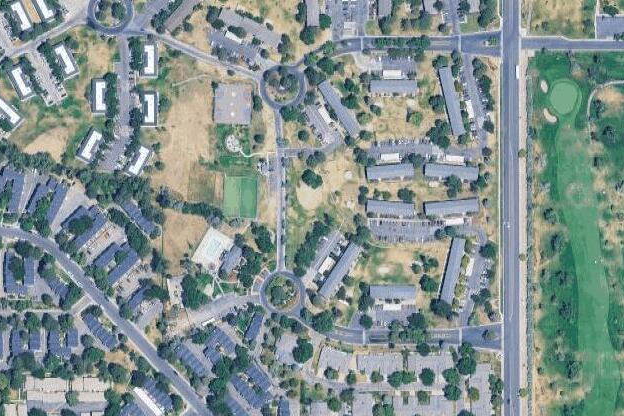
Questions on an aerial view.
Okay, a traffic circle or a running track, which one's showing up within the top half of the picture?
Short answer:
traffic circle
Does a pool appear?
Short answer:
Yes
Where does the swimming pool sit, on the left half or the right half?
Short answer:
left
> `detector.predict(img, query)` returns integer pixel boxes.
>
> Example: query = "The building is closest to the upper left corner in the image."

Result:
[8,0,33,31]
